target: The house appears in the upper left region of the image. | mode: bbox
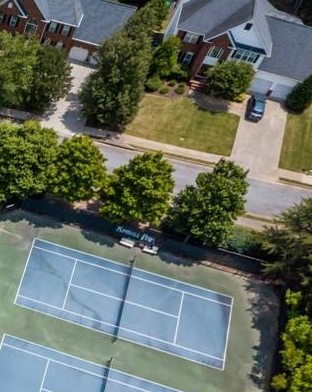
[0,0,112,56]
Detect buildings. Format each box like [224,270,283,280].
[168,0,312,99]
[0,0,112,56]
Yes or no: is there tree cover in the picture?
Yes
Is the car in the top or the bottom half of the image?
top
